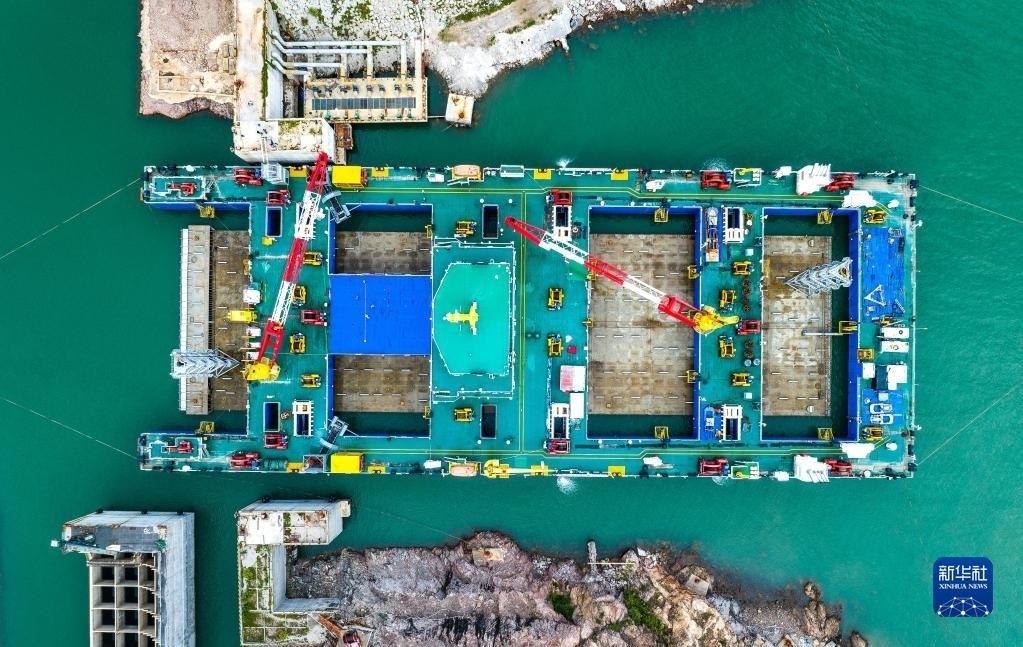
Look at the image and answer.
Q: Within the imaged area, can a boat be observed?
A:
Yes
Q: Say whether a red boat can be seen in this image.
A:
No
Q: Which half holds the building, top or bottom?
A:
top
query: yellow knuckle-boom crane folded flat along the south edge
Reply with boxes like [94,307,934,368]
[483,455,555,478]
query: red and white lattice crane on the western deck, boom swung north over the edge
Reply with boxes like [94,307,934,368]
[241,151,331,386]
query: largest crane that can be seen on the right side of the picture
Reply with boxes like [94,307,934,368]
[505,216,739,337]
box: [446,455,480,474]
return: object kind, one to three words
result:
boat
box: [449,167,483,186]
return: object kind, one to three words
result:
boat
